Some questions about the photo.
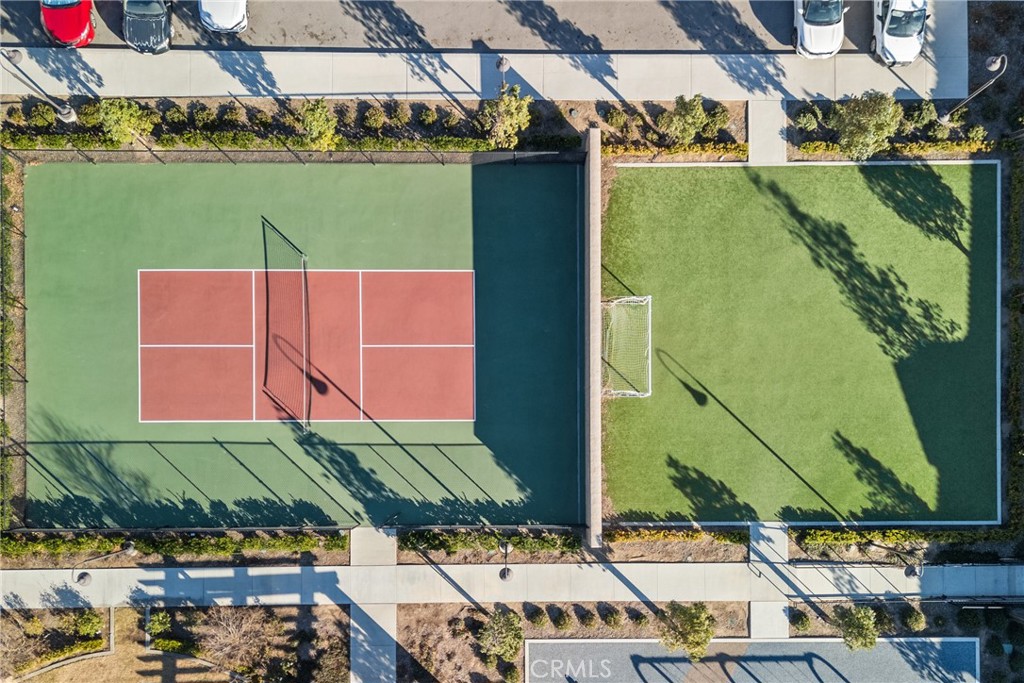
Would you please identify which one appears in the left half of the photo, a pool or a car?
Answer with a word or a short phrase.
car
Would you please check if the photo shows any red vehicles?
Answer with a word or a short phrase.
Yes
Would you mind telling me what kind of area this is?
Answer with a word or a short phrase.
sports ground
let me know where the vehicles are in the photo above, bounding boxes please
[114,0,177,56]
[792,0,854,61]
[869,0,933,69]
[199,0,252,31]
[33,0,98,49]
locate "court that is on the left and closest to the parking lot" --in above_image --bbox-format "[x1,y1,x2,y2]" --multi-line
[24,164,583,527]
